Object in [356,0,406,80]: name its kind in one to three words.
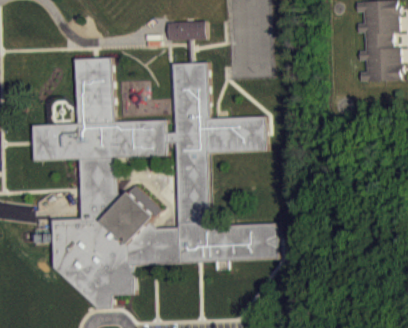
house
